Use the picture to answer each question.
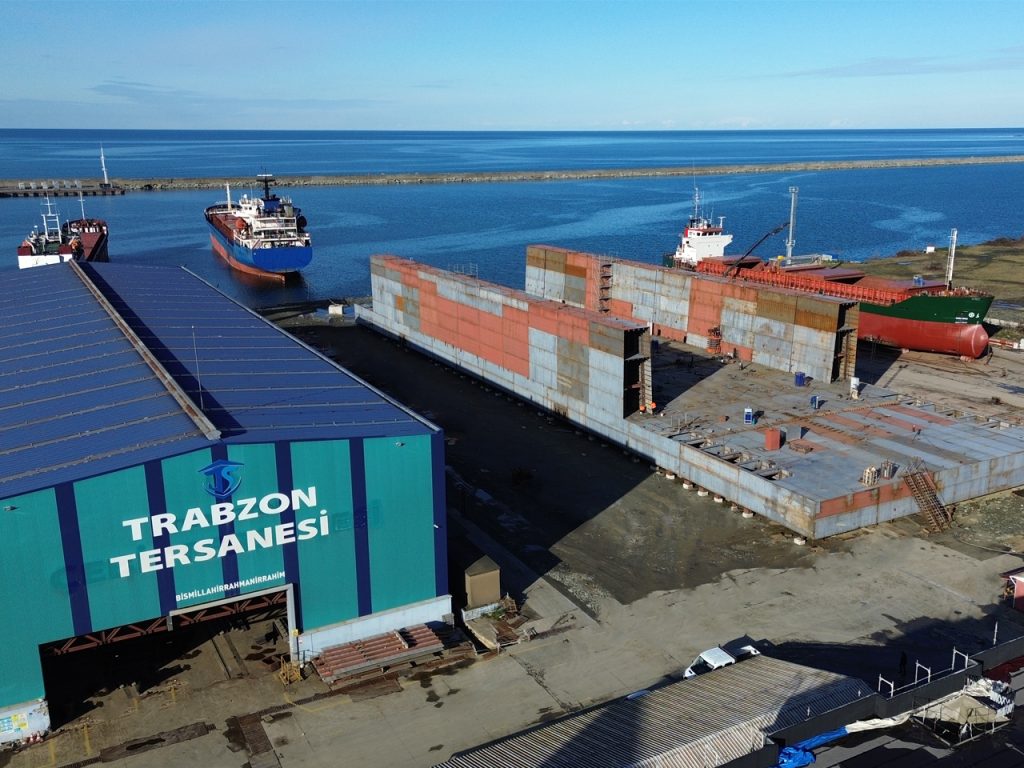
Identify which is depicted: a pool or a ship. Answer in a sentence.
Of the two, only a ship appears.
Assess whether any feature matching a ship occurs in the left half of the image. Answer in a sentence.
Yes, a ship is visible in the left half of the image.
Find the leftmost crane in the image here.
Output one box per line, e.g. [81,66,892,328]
[721,220,791,275]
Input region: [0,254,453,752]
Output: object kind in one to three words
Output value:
building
